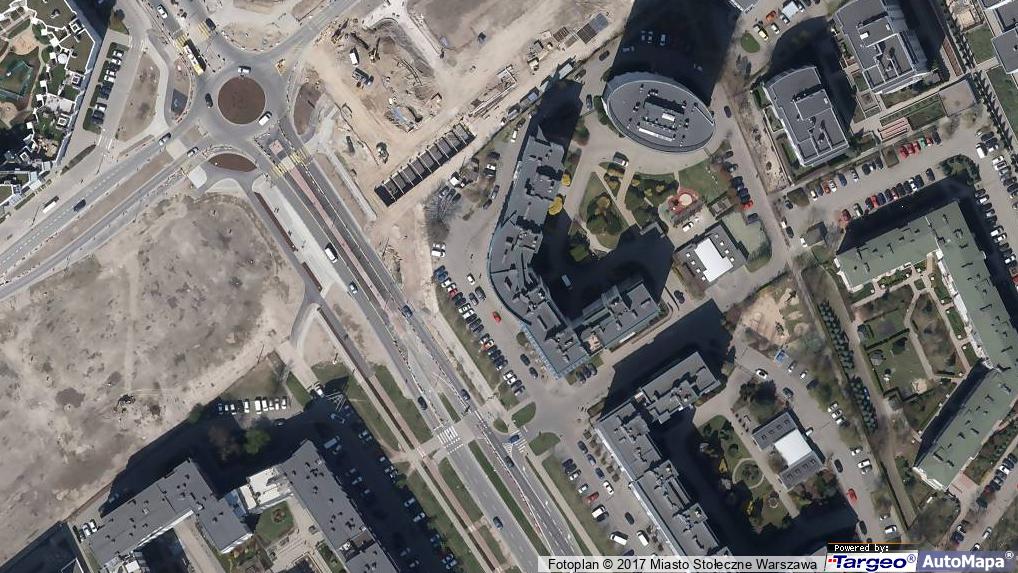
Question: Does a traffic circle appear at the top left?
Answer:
Yes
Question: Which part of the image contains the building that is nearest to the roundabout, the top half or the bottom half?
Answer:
top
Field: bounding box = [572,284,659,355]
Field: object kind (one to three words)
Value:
building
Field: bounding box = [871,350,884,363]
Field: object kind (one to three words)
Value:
gazebo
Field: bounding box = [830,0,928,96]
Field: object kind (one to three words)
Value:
building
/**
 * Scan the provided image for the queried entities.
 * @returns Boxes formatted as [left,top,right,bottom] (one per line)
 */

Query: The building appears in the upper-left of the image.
[0,0,103,211]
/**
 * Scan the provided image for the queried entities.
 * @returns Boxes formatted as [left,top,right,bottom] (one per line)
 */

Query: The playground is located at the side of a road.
[671,187,698,214]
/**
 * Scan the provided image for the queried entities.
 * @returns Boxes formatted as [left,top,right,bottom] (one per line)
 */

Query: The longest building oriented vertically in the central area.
[489,125,592,378]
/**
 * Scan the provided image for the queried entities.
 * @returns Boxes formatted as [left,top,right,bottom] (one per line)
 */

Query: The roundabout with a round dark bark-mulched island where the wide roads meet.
[196,56,287,146]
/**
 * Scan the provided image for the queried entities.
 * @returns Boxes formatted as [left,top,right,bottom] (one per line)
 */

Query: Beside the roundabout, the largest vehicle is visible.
[184,45,202,73]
